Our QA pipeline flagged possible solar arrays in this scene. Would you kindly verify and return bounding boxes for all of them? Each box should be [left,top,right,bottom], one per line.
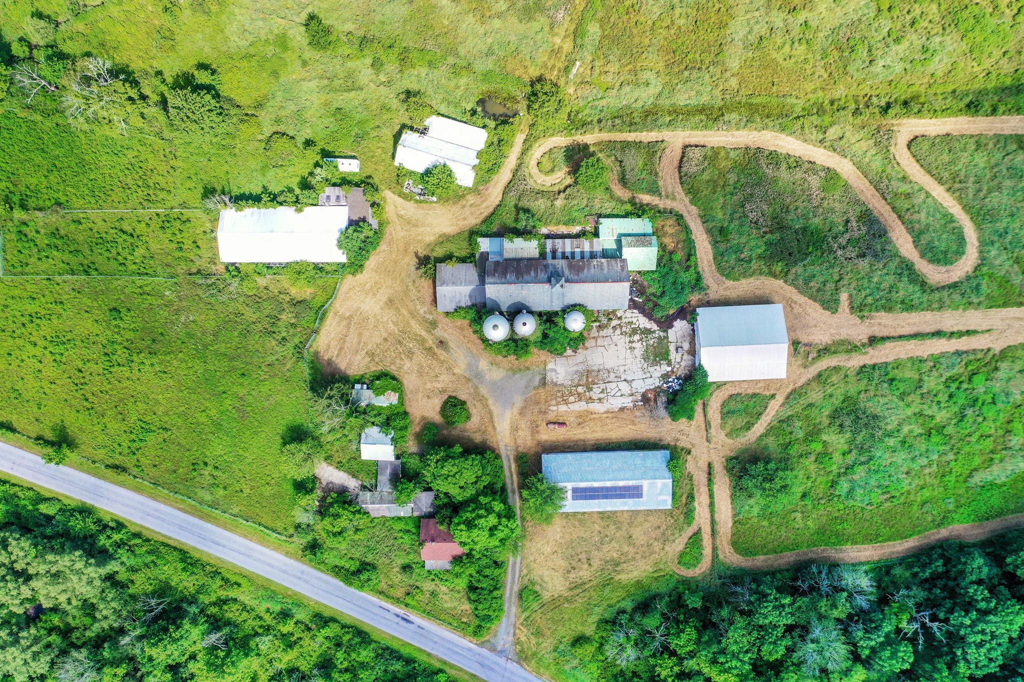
[572,485,643,501]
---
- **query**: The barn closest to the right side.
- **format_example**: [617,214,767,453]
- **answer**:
[694,304,788,382]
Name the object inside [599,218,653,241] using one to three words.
shed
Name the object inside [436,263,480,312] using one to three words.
barn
